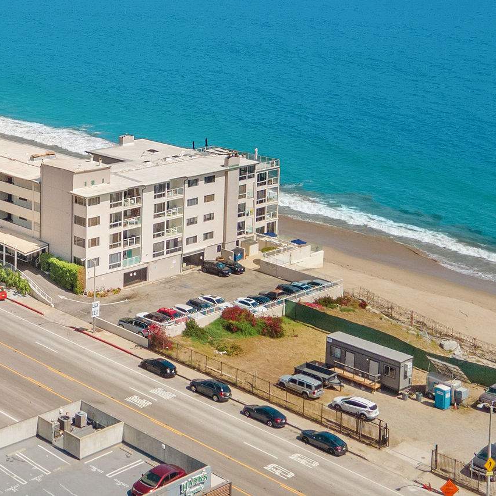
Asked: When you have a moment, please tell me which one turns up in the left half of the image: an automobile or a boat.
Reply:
automobile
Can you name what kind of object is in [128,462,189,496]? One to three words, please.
car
